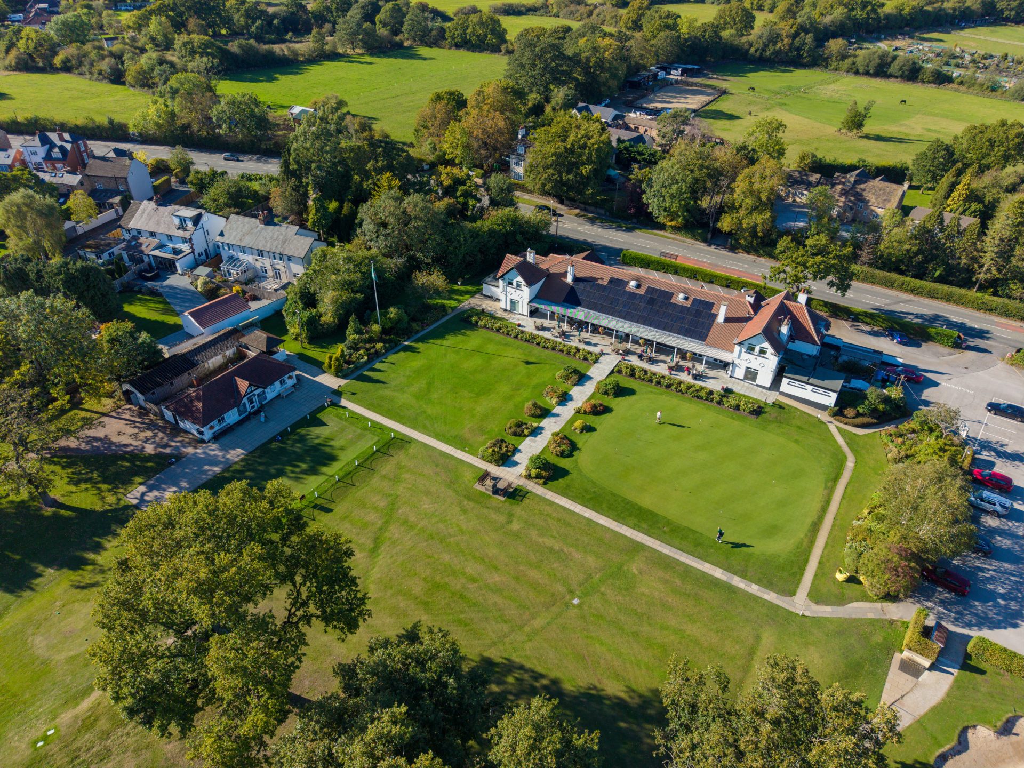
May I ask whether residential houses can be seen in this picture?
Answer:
Yes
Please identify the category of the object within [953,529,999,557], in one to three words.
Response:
car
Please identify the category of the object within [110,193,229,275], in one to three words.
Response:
house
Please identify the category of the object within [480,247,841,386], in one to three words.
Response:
building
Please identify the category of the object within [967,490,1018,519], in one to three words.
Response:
car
